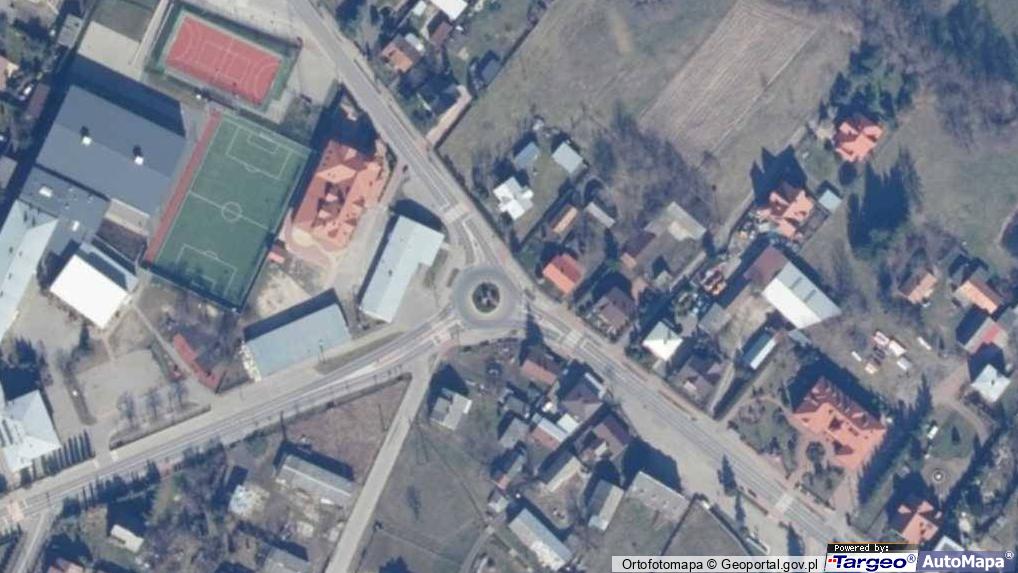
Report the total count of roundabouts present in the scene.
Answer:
1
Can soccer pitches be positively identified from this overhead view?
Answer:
Yes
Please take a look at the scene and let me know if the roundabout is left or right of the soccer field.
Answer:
right of it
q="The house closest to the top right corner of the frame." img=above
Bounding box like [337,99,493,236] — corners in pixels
[837,116,886,162]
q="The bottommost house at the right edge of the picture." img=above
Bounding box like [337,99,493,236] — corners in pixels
[934,537,969,571]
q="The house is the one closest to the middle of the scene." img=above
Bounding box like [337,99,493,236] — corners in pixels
[543,253,585,294]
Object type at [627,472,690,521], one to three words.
building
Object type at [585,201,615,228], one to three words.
shed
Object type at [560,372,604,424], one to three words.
house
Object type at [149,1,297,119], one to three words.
sports court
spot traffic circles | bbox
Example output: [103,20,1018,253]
[453,265,519,330]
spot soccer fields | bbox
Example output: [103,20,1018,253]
[142,108,311,309]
